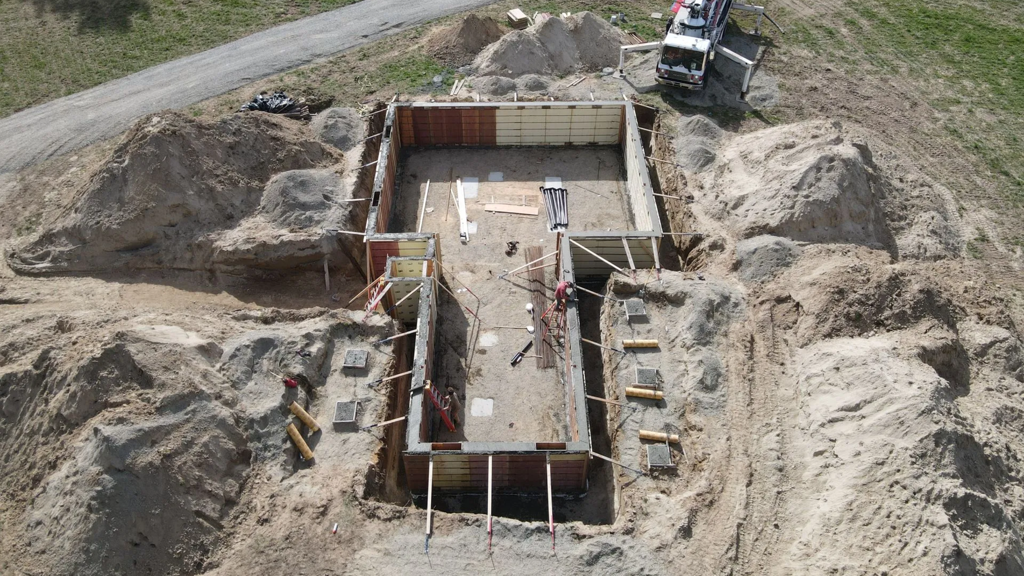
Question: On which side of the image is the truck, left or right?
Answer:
right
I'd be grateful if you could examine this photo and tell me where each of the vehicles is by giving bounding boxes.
[612,0,764,105]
